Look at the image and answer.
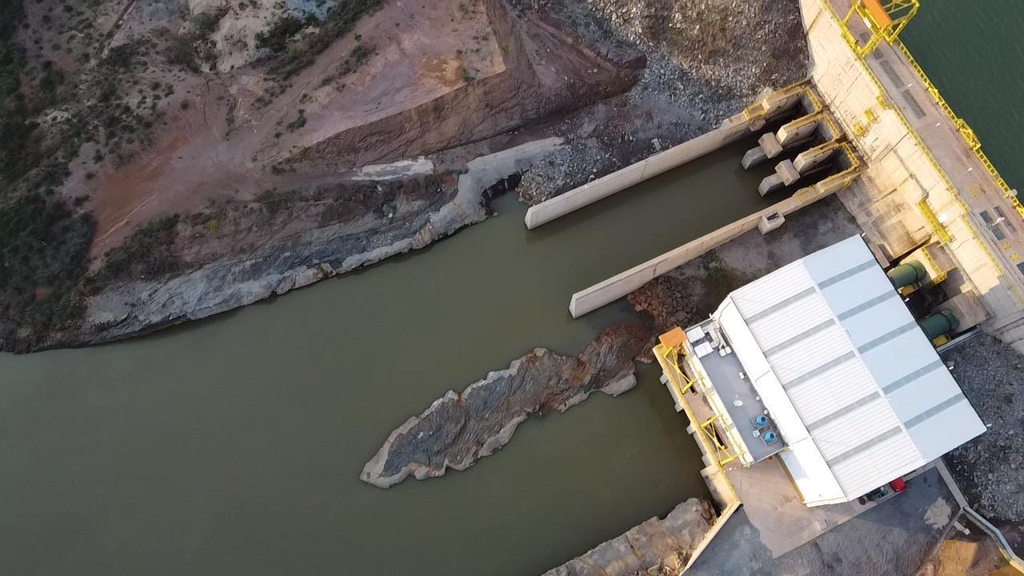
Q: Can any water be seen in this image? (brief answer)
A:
Yes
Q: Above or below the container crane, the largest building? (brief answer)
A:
below it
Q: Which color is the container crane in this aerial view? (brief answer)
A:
yellow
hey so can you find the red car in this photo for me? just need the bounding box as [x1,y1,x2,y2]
[889,478,905,494]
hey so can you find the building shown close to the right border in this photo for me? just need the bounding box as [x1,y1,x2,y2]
[715,233,987,506]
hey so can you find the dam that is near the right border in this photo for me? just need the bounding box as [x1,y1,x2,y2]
[731,0,1024,438]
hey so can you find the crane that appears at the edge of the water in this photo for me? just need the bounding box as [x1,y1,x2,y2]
[841,0,924,58]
